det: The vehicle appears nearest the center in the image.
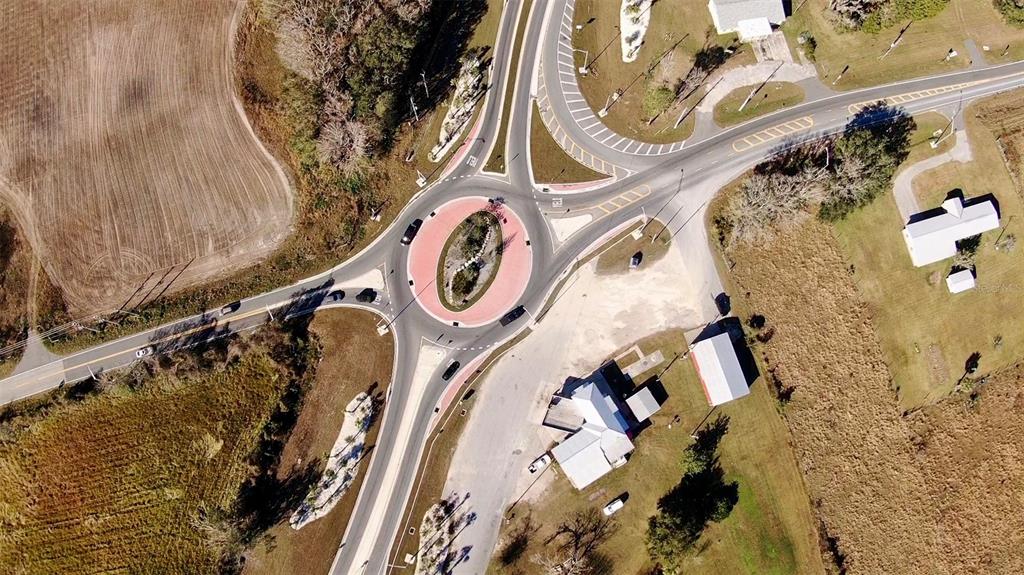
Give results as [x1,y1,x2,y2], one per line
[500,305,525,324]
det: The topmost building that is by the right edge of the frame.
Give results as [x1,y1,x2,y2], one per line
[903,197,1000,268]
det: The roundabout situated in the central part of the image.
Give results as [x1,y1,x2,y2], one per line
[379,143,562,357]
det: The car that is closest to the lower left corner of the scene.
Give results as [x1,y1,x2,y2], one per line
[135,345,155,357]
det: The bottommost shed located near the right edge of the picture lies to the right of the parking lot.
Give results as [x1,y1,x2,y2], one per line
[942,269,975,293]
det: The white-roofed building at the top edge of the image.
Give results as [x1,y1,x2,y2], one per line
[704,0,785,48]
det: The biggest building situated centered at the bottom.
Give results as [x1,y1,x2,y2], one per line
[551,377,635,490]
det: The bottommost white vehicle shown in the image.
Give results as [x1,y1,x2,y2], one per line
[601,497,624,515]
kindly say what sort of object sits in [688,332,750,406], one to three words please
barn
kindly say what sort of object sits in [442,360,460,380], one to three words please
car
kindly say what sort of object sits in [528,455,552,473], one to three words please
car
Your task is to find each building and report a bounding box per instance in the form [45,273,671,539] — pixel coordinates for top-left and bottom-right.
[942,269,975,293]
[903,197,1000,268]
[625,387,660,421]
[688,332,750,406]
[551,377,635,490]
[704,0,785,48]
